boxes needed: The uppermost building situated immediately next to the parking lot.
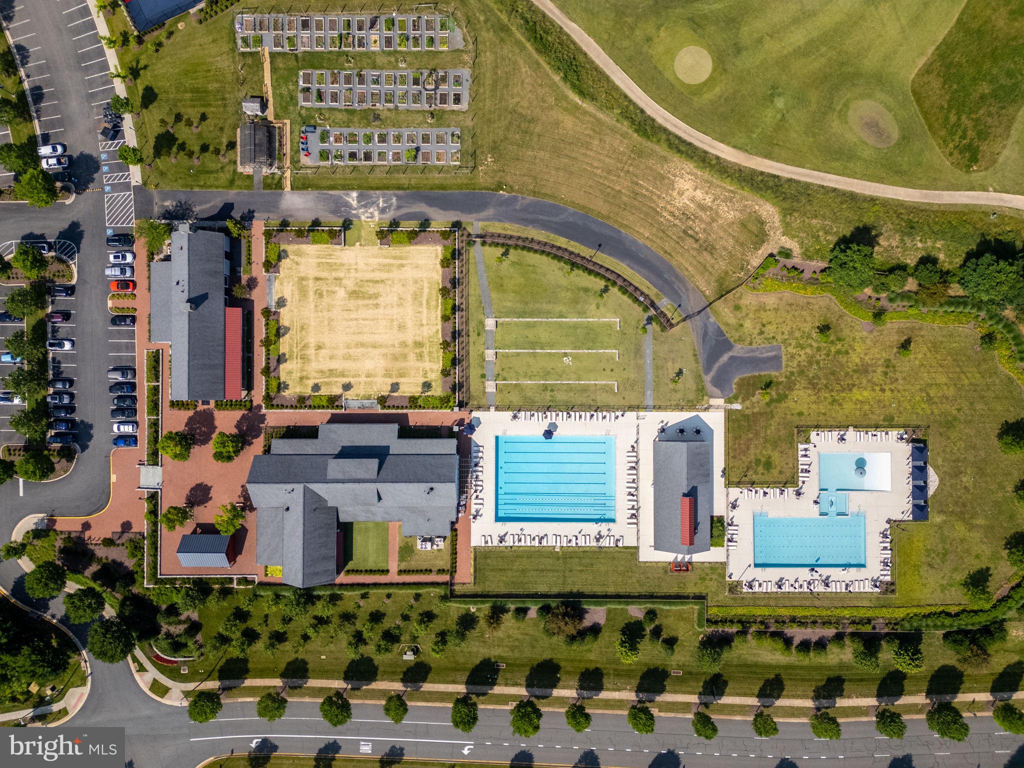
[150,224,247,400]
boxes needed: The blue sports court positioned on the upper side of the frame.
[125,0,204,32]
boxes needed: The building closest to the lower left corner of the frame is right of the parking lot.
[177,533,237,567]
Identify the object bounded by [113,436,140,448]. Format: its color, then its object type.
blue vehicle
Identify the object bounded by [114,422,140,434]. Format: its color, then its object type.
white vehicle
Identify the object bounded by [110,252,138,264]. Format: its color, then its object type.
white vehicle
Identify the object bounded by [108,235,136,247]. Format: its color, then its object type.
black vehicle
